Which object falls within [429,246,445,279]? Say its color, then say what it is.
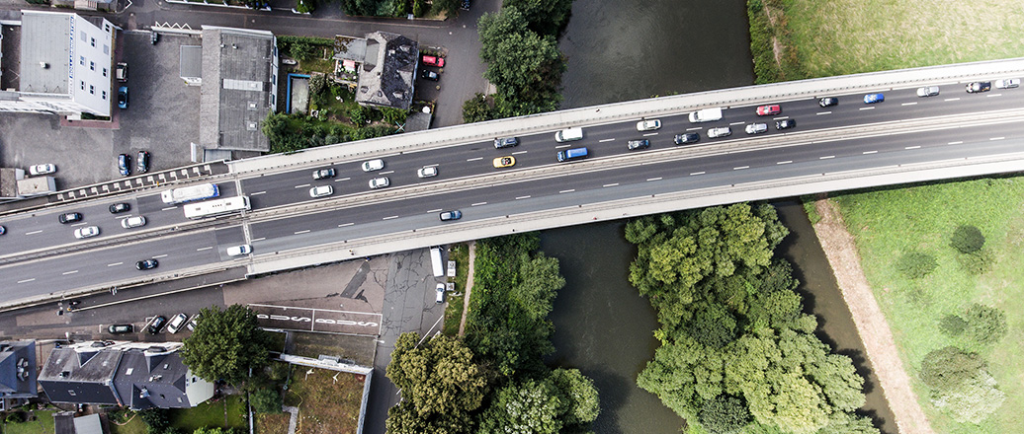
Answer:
white vehicle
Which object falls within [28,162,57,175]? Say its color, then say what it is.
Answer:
white vehicle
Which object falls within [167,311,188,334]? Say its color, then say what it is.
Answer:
white car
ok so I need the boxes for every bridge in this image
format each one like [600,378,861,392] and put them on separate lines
[231,57,1024,277]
